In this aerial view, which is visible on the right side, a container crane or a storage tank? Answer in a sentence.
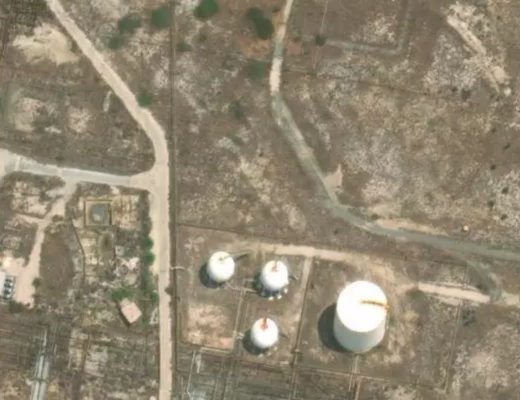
Looking on the right side, you will find a storage tank.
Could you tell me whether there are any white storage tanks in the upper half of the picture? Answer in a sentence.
No, I can find no white storage tank in the upper half of the picture.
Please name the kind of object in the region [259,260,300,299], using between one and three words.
storage tank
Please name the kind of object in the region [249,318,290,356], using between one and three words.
storage tank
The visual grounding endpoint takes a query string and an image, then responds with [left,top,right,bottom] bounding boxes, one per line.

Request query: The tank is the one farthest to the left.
[206,251,251,290]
